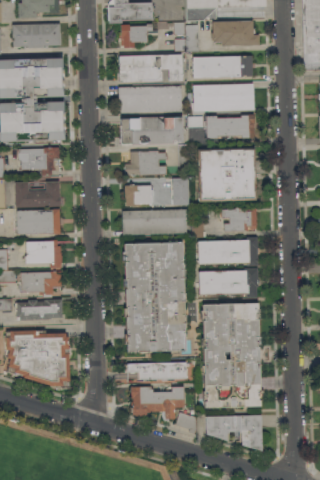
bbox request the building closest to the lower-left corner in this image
[7,332,70,386]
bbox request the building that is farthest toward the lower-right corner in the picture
[207,416,262,450]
